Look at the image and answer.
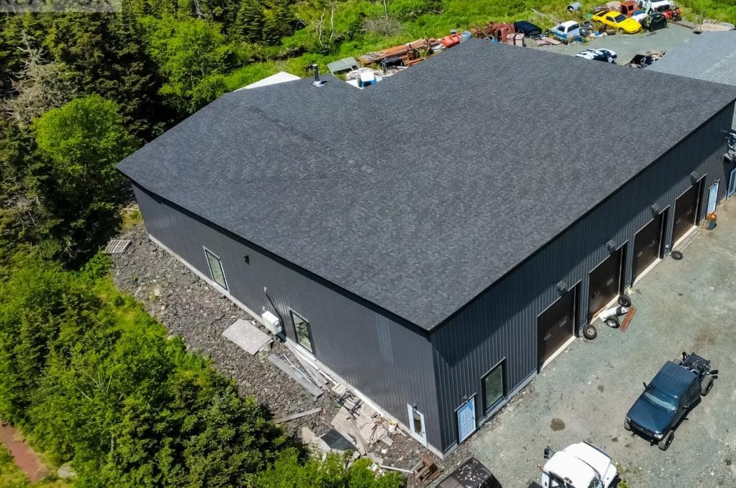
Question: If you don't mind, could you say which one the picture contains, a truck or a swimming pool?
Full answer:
I can see a truck in this picture.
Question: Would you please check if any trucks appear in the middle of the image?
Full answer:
No, in the middle of the image there is no truck.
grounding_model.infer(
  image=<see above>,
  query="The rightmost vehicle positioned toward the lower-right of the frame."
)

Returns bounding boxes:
[623,350,724,449]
